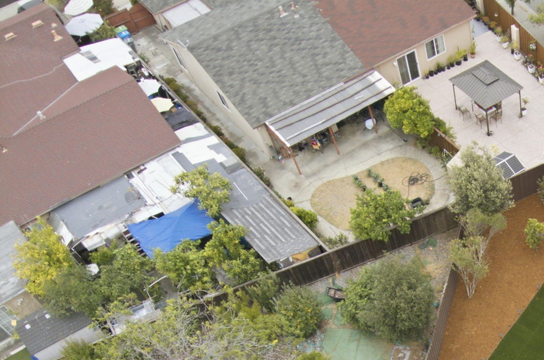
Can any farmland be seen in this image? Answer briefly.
No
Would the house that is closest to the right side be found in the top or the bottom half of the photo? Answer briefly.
top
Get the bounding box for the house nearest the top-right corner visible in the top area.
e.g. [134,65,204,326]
[142,0,476,175]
